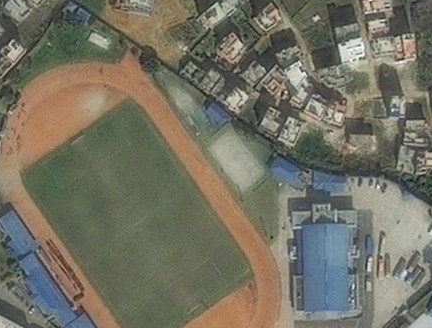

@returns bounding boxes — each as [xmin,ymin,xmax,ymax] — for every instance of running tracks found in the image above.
[0,49,282,328]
